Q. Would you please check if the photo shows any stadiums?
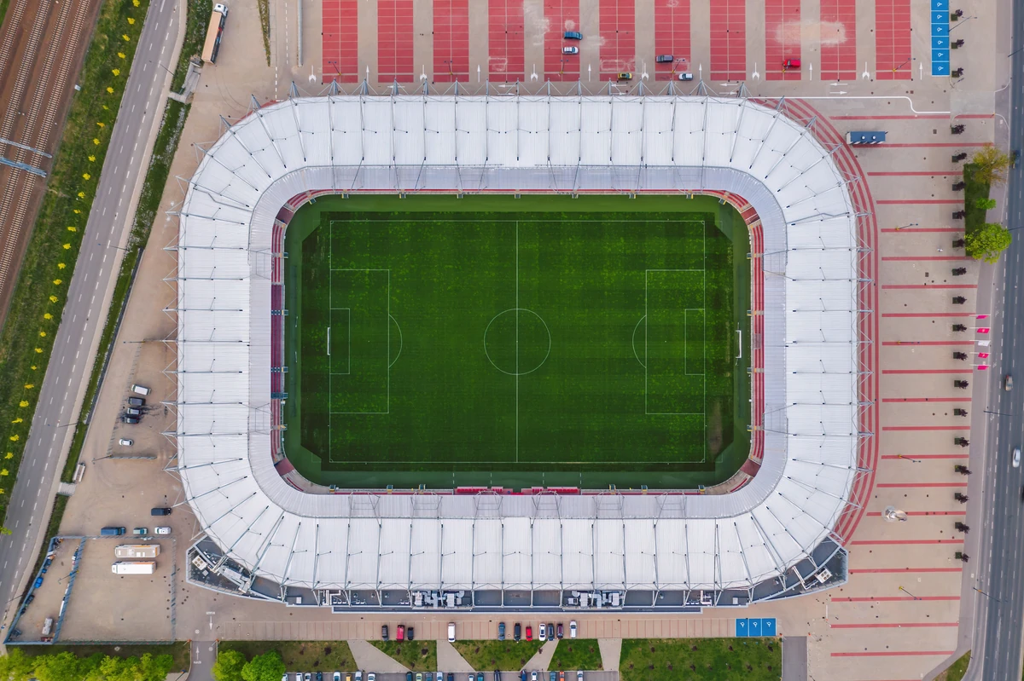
Yes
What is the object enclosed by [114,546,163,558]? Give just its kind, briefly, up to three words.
vehicle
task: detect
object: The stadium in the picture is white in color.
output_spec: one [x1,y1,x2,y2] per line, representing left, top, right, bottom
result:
[161,77,874,608]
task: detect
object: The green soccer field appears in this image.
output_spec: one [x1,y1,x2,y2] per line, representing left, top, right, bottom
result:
[285,195,751,489]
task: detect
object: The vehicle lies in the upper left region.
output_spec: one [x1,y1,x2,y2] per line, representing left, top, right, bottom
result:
[200,4,226,61]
